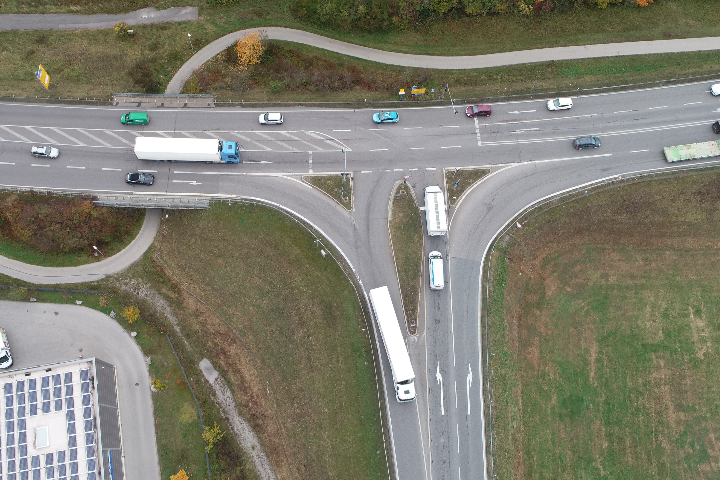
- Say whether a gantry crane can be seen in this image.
No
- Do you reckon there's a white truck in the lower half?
Yes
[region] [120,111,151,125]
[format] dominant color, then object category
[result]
green vehicle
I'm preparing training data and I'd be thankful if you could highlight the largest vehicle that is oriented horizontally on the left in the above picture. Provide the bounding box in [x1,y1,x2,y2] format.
[135,138,240,162]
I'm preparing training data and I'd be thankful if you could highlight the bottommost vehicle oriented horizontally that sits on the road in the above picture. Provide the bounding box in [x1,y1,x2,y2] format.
[125,172,155,185]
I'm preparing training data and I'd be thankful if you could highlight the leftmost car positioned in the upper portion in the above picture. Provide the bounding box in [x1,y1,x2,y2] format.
[29,145,61,159]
